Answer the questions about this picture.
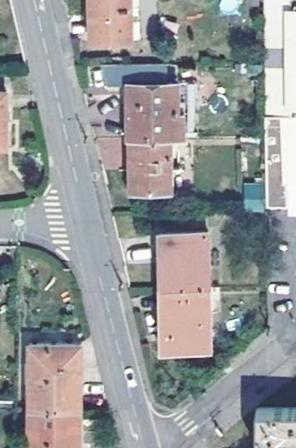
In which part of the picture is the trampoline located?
top right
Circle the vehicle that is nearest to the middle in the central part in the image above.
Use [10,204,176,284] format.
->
[129,248,152,260]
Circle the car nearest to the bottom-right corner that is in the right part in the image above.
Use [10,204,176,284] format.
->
[274,299,295,311]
